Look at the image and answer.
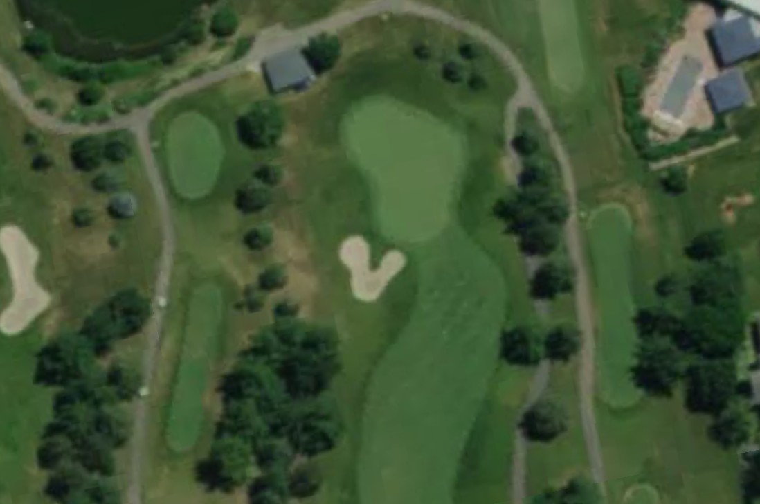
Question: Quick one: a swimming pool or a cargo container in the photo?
swimming pool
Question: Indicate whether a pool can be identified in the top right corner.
Yes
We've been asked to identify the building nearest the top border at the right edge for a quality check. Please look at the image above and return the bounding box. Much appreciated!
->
[715,15,760,63]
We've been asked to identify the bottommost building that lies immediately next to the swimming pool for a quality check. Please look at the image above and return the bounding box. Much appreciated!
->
[707,66,747,110]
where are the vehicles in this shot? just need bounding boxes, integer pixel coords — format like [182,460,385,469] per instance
[141,386,147,396]
[158,297,164,307]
